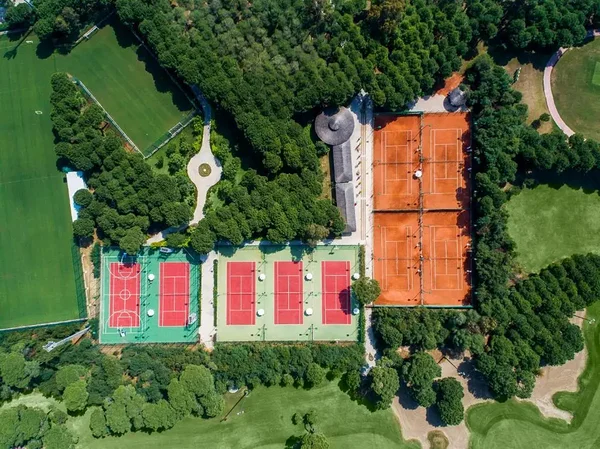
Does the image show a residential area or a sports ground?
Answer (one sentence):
It's a sports ground.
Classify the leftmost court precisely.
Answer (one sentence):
The leftmost court appears to be a basketball court.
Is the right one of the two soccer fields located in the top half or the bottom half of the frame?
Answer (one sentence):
The right one of the two soccer fields sits in the top half of the picture.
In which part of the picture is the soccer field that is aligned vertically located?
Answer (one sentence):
The soccer field that is aligned vertically is in the left part of the image.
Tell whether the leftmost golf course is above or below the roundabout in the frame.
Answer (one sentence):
As seen from overhead, the leftmost golf course falls below the roundabout in the picture.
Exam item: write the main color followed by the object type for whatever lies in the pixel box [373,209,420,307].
orange tennis court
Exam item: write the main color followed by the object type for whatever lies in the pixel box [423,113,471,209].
orange tennis court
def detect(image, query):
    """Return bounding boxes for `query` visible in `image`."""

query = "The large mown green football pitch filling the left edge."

[0,31,81,329]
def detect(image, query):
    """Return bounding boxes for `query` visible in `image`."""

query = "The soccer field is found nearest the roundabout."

[60,15,196,155]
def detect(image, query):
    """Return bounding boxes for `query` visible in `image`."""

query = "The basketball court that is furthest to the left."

[100,247,151,343]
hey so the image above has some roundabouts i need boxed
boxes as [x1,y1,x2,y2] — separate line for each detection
[187,129,223,222]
